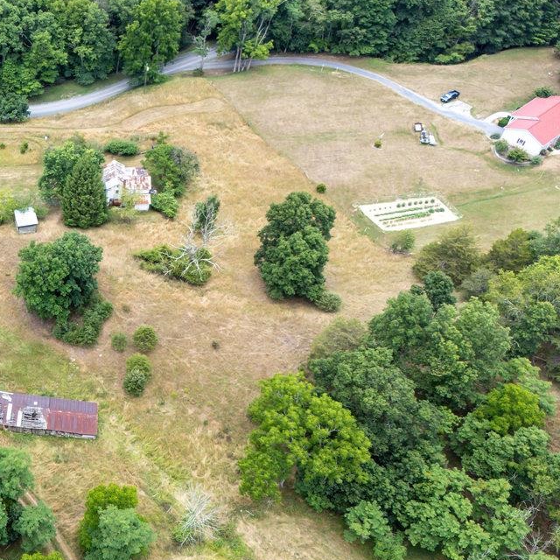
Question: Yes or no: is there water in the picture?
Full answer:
No, there is no water in the image.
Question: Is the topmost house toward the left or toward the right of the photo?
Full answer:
The topmost house appears in the right half of the scene.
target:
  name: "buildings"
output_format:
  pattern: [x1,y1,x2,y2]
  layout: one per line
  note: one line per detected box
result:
[0,390,101,444]
[500,102,560,154]
[12,207,38,234]
[107,162,165,210]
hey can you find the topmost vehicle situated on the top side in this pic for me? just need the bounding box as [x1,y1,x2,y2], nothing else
[443,90,462,102]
